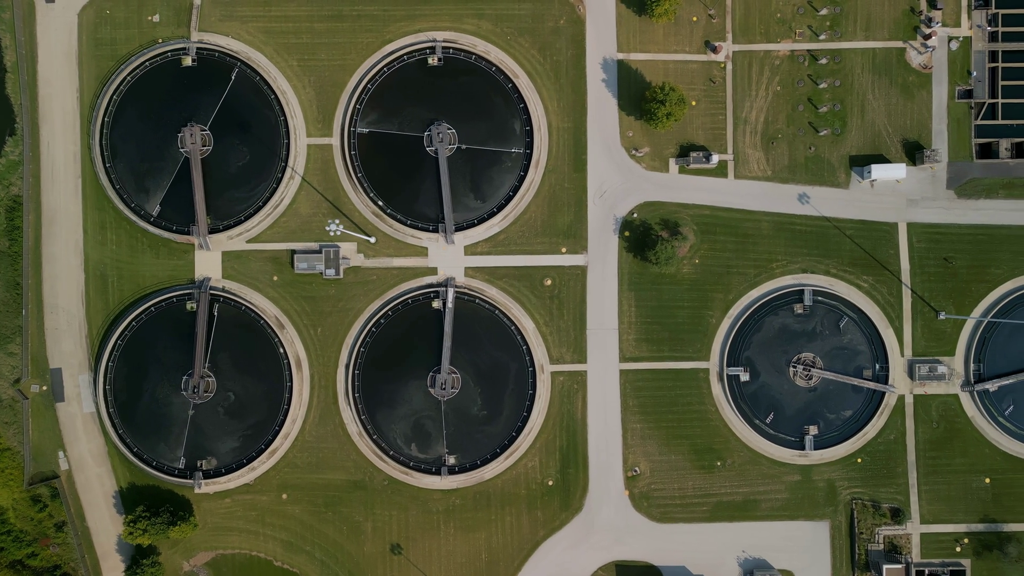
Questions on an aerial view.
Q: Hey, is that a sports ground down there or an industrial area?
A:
industrial area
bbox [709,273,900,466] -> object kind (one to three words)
storage tank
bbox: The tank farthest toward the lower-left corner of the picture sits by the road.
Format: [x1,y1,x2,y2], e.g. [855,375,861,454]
[96,279,308,491]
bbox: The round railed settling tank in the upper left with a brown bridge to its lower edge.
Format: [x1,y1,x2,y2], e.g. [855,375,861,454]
[93,35,304,248]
